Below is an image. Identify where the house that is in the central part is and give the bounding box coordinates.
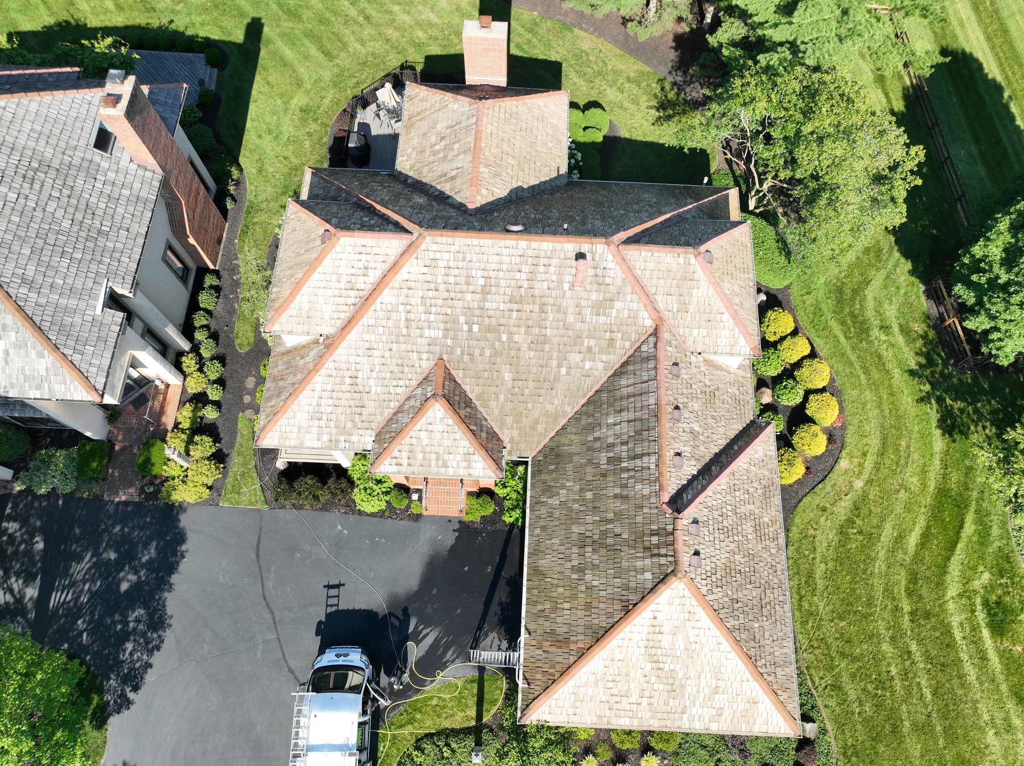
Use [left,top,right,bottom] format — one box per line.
[253,11,803,743]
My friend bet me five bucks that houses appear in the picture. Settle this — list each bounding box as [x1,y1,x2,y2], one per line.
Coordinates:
[0,63,228,501]
[253,11,803,743]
